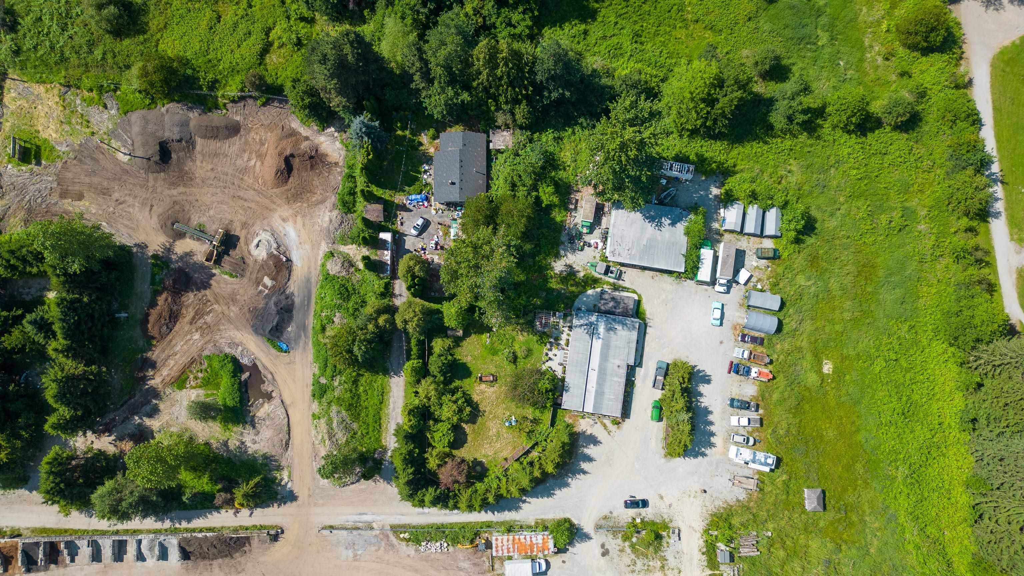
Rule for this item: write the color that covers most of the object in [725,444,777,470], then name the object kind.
white camper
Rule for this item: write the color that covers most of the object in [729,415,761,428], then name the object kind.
white vehicle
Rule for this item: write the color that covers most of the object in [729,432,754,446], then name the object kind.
white car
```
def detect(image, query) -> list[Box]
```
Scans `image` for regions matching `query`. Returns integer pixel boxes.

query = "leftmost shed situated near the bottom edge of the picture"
[492,531,554,556]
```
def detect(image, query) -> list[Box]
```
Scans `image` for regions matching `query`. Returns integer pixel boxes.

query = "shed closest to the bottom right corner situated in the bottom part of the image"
[801,485,822,510]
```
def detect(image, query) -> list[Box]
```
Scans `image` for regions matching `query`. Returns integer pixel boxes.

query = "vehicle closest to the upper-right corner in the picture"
[754,247,780,260]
